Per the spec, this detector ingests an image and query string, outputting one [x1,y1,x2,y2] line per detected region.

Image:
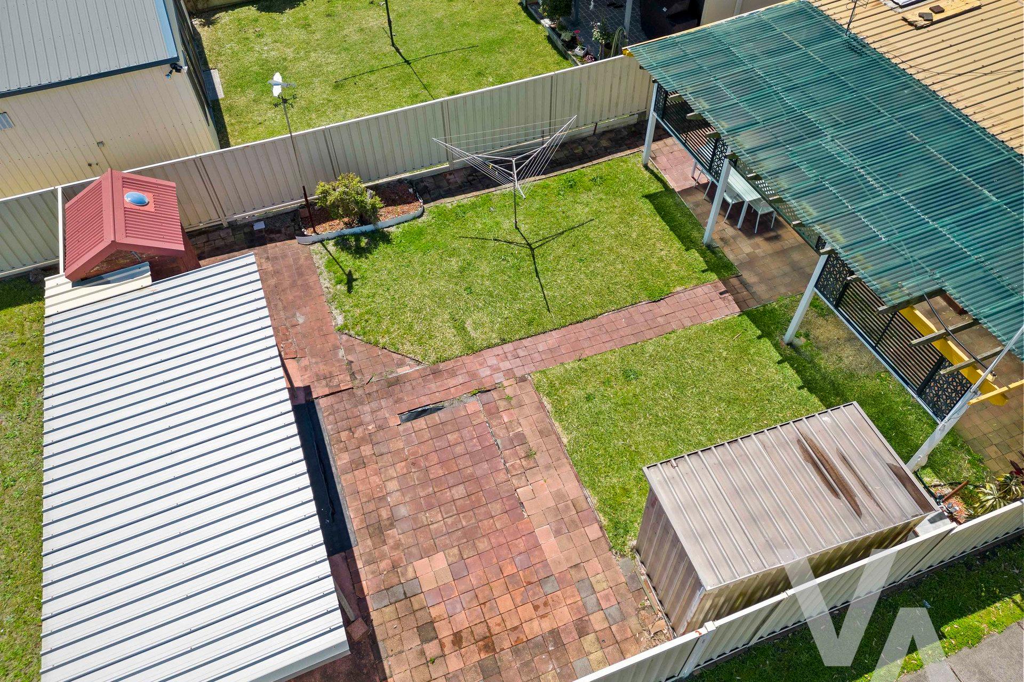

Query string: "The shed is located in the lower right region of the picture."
[630,395,938,634]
